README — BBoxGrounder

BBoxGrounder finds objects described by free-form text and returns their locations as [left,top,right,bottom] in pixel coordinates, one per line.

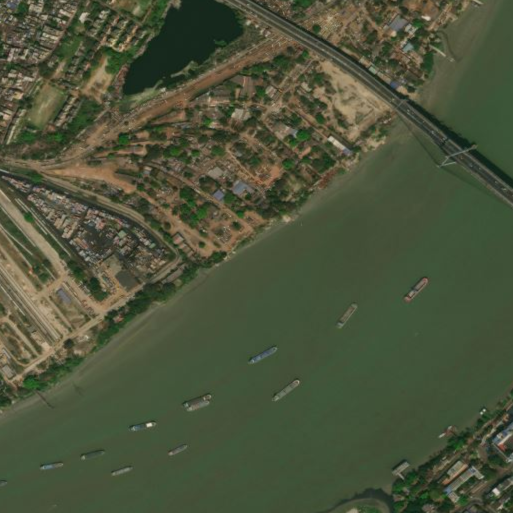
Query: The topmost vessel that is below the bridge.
[405,278,427,302]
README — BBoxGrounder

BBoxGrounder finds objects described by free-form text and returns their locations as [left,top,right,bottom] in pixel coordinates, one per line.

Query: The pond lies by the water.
[123,0,243,96]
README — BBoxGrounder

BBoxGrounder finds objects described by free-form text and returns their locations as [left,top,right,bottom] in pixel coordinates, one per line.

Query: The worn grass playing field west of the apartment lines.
[29,82,65,128]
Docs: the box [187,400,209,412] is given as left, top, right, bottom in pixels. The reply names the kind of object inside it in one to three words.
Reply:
ship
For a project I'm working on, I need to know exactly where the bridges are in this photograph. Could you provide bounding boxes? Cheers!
[227,0,513,211]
